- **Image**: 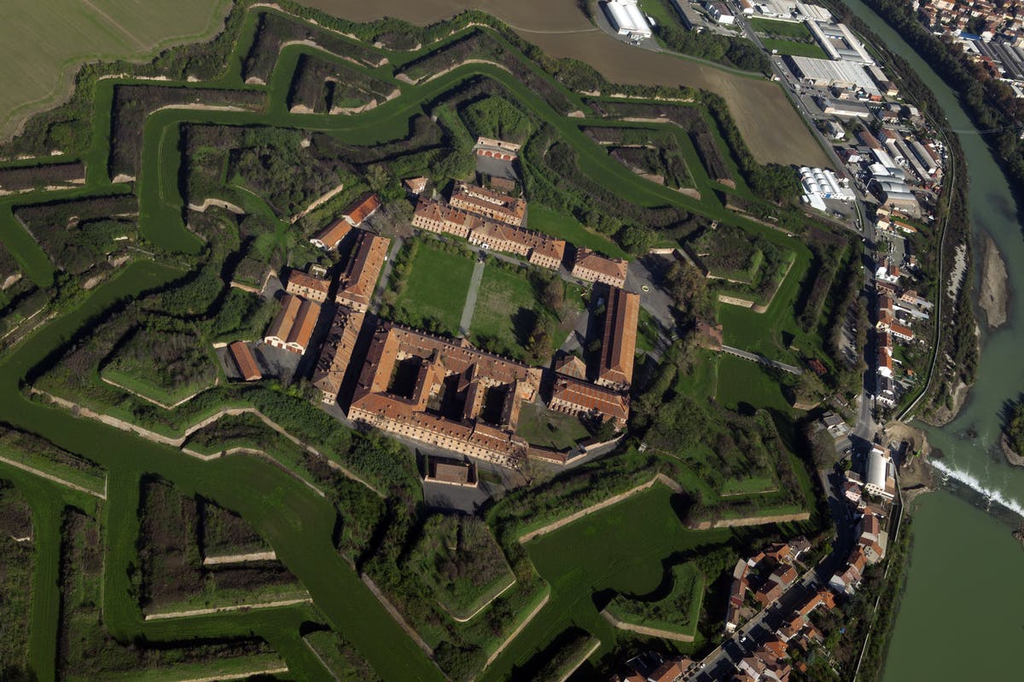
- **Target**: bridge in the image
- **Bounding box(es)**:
[722,339,812,375]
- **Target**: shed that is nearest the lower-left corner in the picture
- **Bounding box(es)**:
[226,341,263,385]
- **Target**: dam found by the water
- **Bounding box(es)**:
[927,459,1024,520]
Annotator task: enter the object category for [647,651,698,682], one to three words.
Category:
house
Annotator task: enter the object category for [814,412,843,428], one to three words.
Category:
building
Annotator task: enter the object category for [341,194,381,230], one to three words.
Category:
shed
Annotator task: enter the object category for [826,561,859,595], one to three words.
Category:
house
